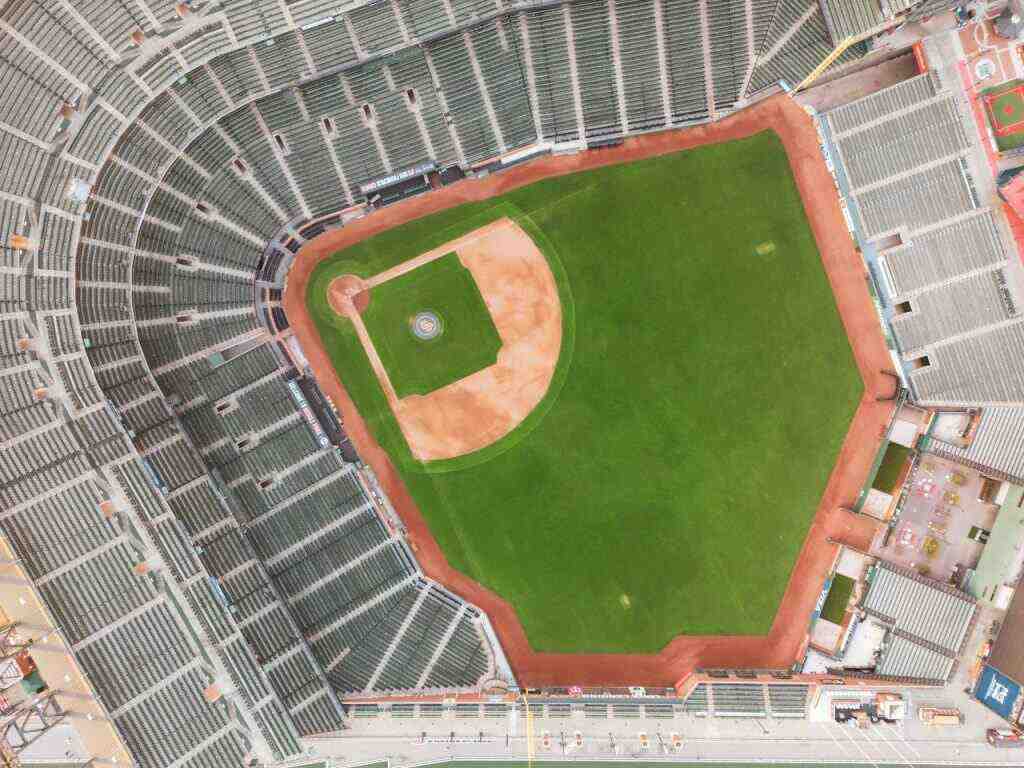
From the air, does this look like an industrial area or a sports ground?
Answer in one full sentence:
It's a sports ground.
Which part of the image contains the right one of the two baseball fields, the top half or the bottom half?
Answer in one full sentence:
The right one of the two baseball fields sits in the top half of the picture.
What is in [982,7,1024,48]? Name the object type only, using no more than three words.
building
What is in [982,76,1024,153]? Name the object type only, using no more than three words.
baseball field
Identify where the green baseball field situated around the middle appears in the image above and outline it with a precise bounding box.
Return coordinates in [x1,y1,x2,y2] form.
[284,94,904,687]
